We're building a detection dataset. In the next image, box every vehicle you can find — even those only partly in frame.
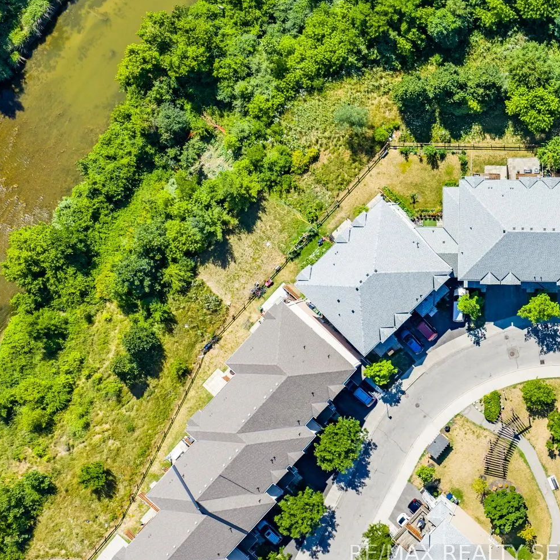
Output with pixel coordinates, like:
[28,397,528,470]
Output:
[257,518,286,546]
[405,495,432,515]
[393,510,411,530]
[347,380,382,411]
[452,286,468,323]
[397,326,425,355]
[411,314,444,346]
